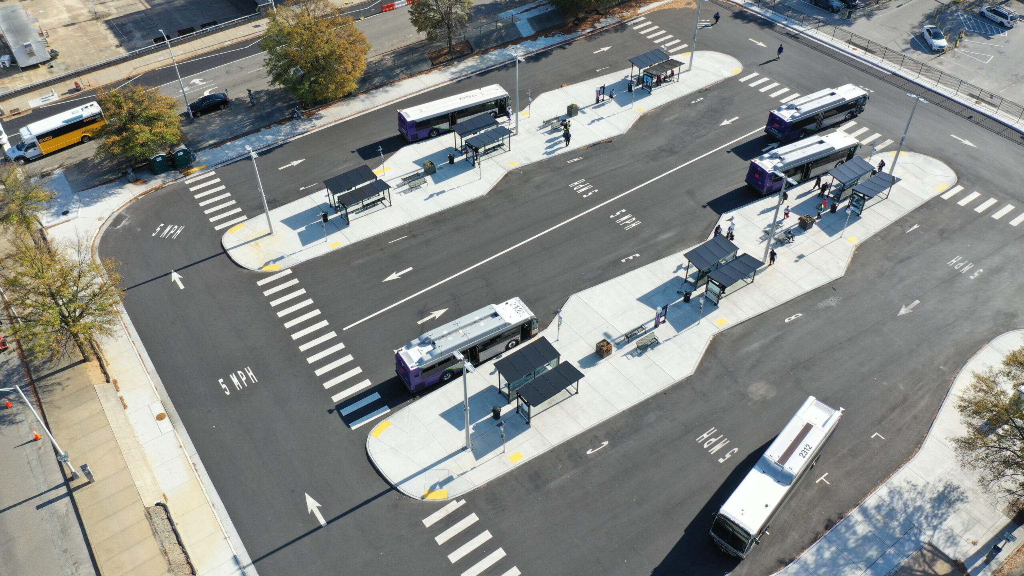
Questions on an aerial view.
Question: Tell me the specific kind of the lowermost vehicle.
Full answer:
In the photo, the lowermost vehicle shows up as a bus.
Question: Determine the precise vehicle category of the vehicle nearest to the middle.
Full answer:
The vehicle nearest to the middle is a bus.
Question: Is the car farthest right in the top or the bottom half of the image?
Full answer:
The car farthest right is in the top half of the image.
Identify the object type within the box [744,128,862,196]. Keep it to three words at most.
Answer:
bus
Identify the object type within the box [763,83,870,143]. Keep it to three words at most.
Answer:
bus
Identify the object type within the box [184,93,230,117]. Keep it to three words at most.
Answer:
car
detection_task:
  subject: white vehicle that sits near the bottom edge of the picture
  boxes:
[706,397,847,561]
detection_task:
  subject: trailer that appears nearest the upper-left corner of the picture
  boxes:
[0,1,47,66]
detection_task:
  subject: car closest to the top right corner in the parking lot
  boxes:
[980,3,1021,27]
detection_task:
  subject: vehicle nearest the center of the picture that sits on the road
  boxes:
[388,296,538,395]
